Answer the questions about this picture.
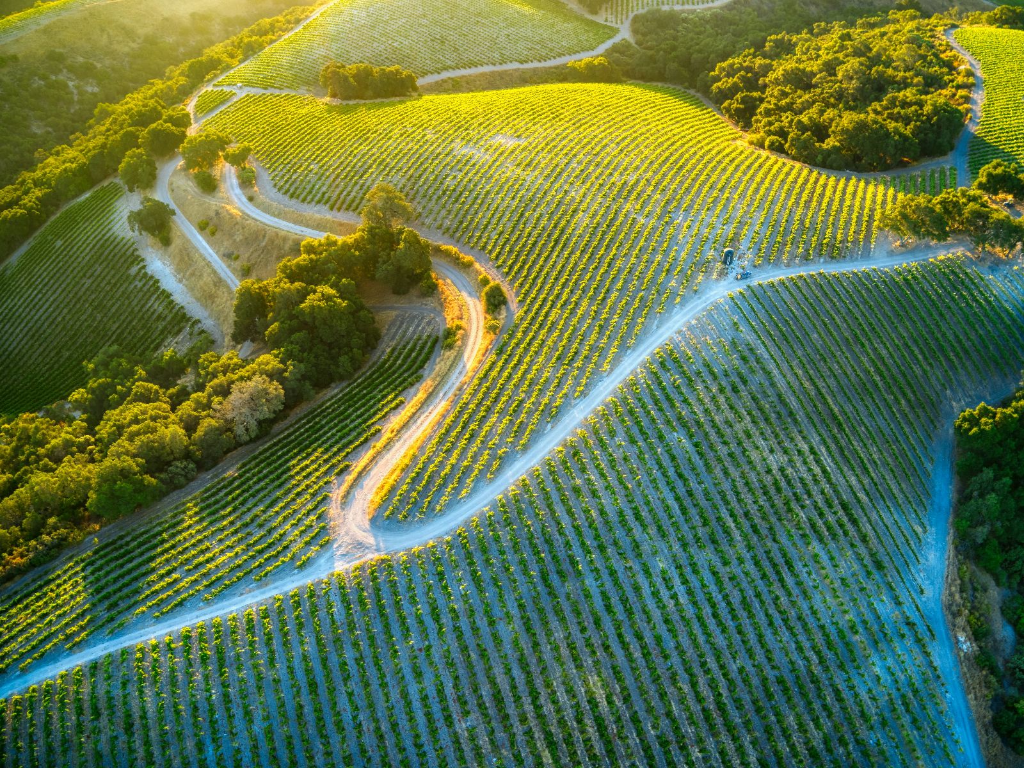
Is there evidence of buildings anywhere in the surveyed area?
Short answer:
No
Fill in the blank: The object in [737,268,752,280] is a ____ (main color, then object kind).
blue vehicle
